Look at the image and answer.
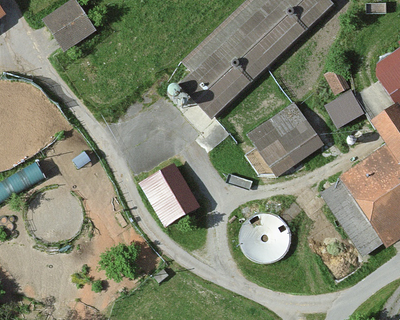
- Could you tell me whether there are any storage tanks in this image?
Yes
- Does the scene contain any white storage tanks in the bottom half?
Yes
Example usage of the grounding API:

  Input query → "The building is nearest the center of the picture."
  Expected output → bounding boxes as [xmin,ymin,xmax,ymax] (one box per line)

[139,164,200,226]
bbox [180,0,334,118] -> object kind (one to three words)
barn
